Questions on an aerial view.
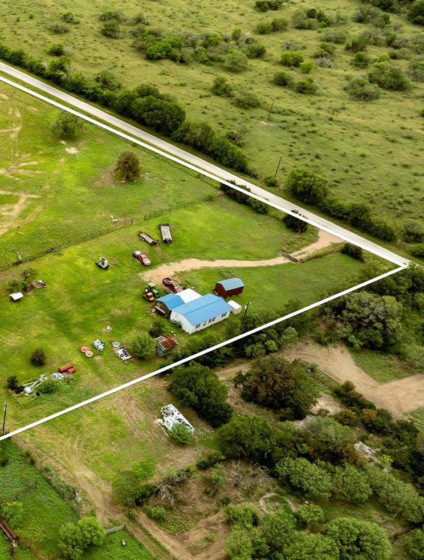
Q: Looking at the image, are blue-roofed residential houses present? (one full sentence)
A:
Yes, looking at the shot, I can spot a blue-roofed residential house.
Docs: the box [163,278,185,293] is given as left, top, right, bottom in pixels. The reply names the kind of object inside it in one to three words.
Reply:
vehicle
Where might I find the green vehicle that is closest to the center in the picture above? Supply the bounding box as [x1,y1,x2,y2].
[145,282,162,297]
